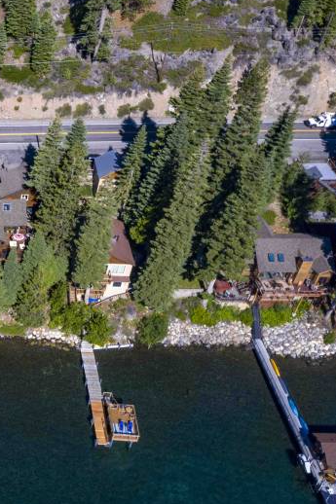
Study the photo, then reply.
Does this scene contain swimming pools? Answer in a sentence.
No, this view has no swimming pool in it.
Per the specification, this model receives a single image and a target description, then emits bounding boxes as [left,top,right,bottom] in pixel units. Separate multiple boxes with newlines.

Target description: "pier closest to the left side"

[78,337,109,451]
